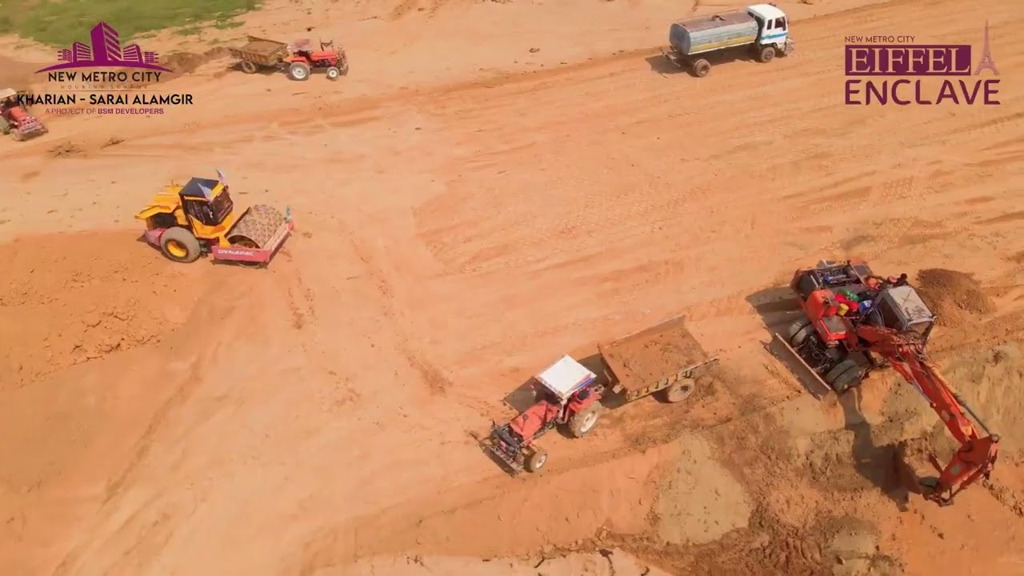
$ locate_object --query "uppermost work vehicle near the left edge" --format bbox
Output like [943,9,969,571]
[0,82,46,144]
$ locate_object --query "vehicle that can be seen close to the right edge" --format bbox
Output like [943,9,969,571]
[768,259,1001,507]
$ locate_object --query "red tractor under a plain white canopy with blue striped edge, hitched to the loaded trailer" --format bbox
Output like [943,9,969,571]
[473,352,600,483]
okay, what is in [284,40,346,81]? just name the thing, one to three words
work vehicle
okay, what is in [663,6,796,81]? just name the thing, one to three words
truck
